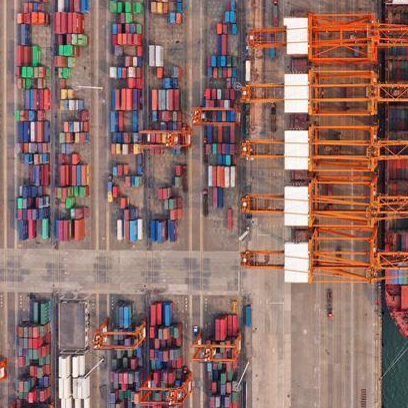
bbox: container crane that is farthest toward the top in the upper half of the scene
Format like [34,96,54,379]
[248,12,408,67]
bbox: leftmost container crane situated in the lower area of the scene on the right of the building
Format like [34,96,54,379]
[93,317,150,350]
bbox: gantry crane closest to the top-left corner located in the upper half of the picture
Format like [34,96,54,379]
[140,126,193,150]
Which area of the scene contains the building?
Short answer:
bottom left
